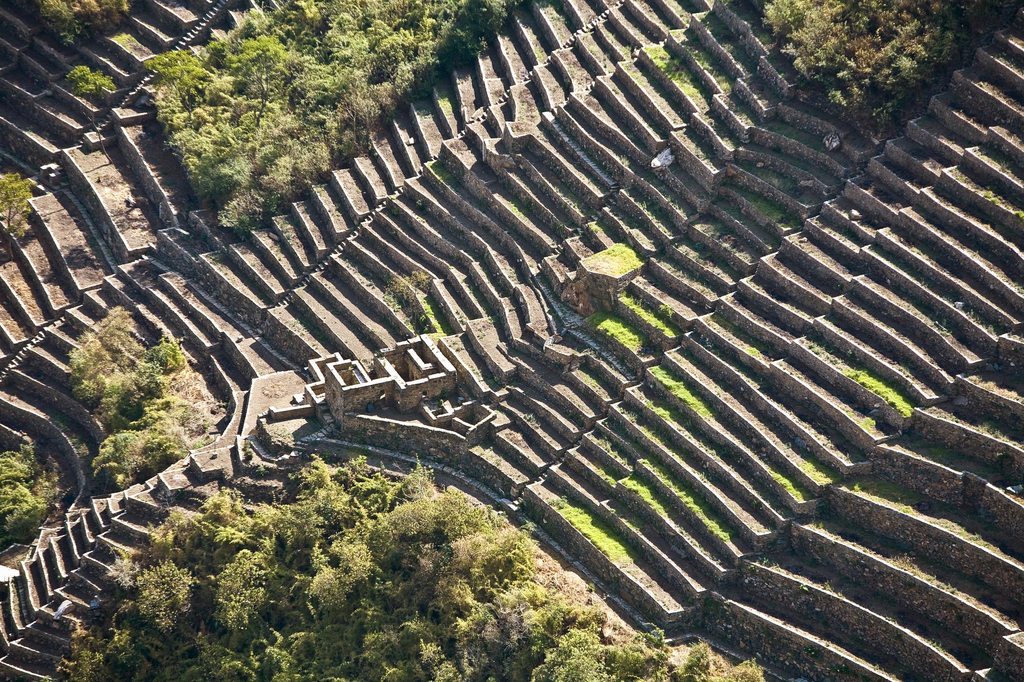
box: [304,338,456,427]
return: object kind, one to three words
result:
building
